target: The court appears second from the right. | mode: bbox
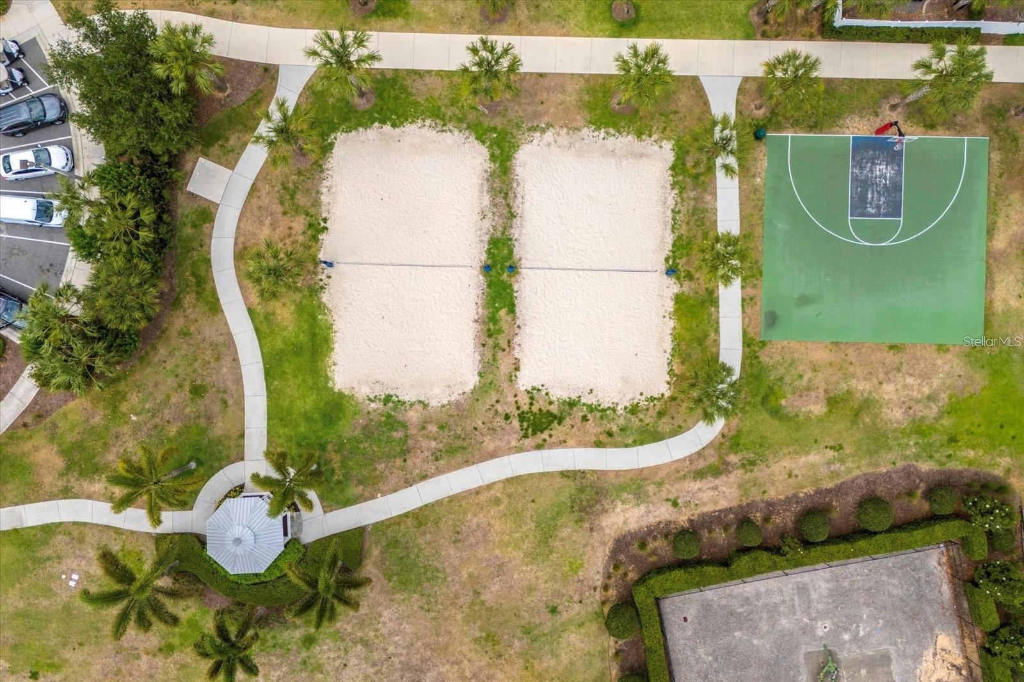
[509,128,677,406]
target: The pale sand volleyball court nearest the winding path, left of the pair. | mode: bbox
[316,121,493,405]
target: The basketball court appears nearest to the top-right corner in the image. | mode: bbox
[761,135,989,344]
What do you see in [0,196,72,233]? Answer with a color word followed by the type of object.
white car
